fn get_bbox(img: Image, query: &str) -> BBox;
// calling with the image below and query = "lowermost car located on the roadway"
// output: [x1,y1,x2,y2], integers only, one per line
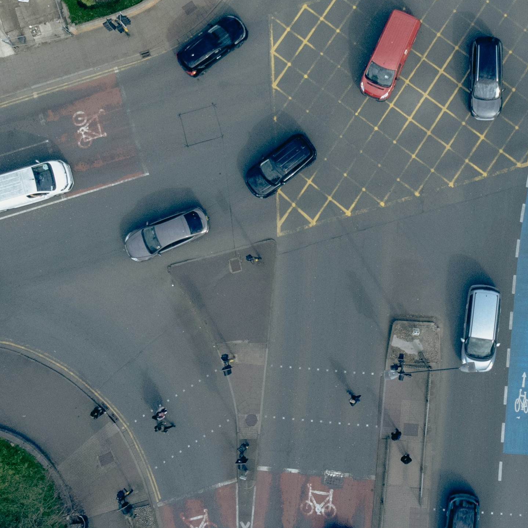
[444,487,480,528]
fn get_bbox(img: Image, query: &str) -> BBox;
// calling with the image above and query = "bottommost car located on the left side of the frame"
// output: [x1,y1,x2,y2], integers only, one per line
[127,209,211,263]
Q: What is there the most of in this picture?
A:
paved ground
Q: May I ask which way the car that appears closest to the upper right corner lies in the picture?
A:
vertically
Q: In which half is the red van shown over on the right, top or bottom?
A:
top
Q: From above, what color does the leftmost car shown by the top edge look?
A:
black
